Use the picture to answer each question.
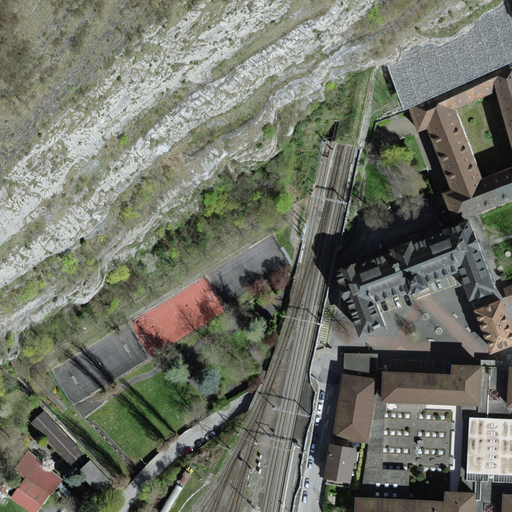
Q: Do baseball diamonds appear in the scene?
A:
No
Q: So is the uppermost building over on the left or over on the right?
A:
right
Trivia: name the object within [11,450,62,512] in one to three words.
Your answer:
house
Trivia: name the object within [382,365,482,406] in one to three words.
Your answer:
building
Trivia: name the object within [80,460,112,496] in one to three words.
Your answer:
shed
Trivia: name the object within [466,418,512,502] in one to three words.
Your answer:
building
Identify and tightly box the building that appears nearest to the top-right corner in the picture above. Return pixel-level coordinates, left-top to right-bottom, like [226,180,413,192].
[388,2,512,109]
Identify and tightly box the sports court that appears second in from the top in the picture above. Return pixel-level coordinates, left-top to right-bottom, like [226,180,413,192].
[132,278,225,356]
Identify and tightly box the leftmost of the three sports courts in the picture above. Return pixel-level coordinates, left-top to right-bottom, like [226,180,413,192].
[52,324,148,404]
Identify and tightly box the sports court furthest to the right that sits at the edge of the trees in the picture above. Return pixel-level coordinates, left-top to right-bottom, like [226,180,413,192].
[206,235,289,309]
